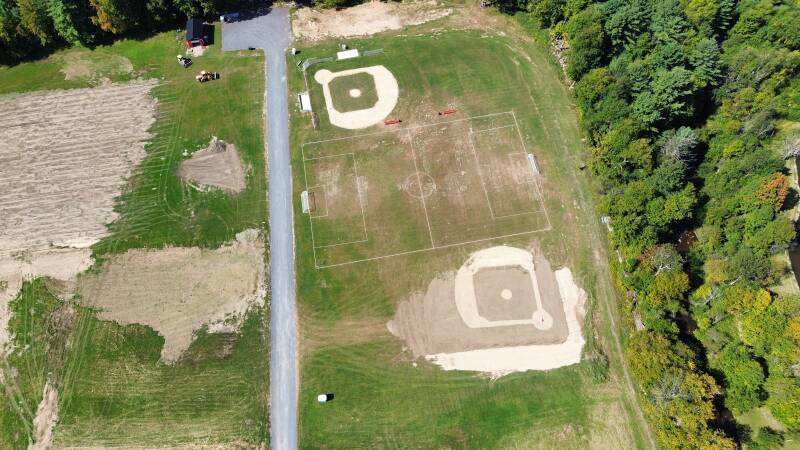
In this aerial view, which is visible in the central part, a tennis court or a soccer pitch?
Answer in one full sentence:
There is a soccer pitch in the central part.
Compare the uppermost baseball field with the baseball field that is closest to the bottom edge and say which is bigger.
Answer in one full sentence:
The baseball field that is closest to the bottom edge is larger than the uppermost baseball field.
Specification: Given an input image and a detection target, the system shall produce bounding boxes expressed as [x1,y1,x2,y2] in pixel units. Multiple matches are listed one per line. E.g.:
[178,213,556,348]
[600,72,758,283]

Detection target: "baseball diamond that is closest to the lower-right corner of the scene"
[388,246,588,376]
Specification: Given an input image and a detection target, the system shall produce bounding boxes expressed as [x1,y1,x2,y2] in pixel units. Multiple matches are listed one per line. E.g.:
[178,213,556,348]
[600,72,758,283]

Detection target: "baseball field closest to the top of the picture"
[313,66,398,128]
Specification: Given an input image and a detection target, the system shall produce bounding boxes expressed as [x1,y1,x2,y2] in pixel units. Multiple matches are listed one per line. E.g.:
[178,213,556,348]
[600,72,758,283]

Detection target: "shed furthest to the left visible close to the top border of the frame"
[184,18,202,49]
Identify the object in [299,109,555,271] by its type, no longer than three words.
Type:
soccer field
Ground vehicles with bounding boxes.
[221,12,240,22]
[196,71,218,80]
[177,55,190,66]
